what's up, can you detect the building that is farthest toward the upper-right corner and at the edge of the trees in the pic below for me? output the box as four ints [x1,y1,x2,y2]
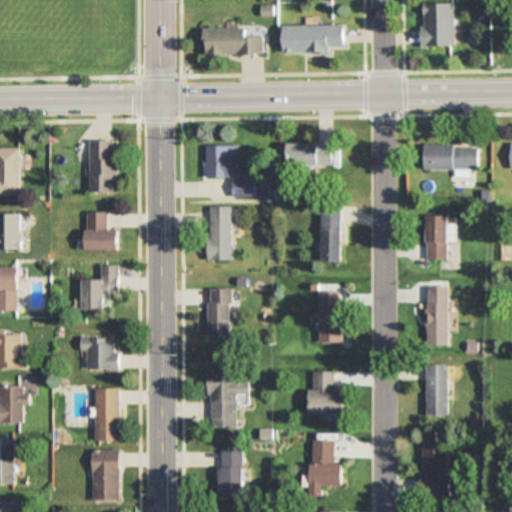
[418,2,457,49]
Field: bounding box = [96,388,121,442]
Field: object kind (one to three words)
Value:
house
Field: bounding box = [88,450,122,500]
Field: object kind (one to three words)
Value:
house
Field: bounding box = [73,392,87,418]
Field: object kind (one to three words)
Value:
swimming pool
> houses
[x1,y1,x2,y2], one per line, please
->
[306,372,344,410]
[278,25,346,56]
[218,450,243,498]
[425,365,449,417]
[0,214,22,250]
[81,212,118,250]
[420,144,480,172]
[0,148,23,191]
[0,333,23,368]
[306,441,343,496]
[80,265,121,310]
[320,204,342,262]
[200,28,264,58]
[88,450,122,500]
[0,386,24,425]
[205,378,251,429]
[420,446,449,502]
[88,140,120,190]
[205,207,235,262]
[318,292,345,344]
[79,335,120,372]
[204,146,260,200]
[96,388,121,442]
[424,286,450,346]
[0,460,16,486]
[418,2,457,49]
[206,289,234,337]
[284,142,334,168]
[424,216,448,262]
[0,266,18,312]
